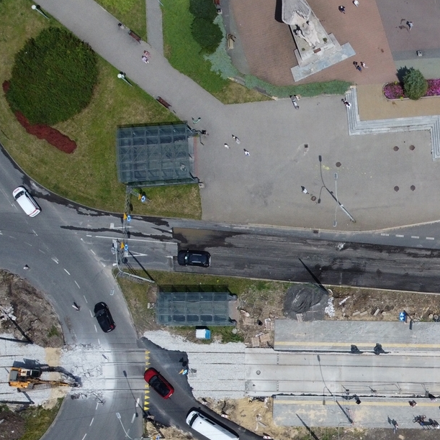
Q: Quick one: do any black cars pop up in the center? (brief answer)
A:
Yes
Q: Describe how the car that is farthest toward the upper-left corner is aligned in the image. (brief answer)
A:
at an angle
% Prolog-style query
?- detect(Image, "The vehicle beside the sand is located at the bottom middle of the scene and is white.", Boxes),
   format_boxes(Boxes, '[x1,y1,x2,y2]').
[190,411,239,440]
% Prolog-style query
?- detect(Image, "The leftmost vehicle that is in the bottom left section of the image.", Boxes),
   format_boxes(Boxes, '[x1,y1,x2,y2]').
[8,367,79,389]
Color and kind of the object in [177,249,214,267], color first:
black car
